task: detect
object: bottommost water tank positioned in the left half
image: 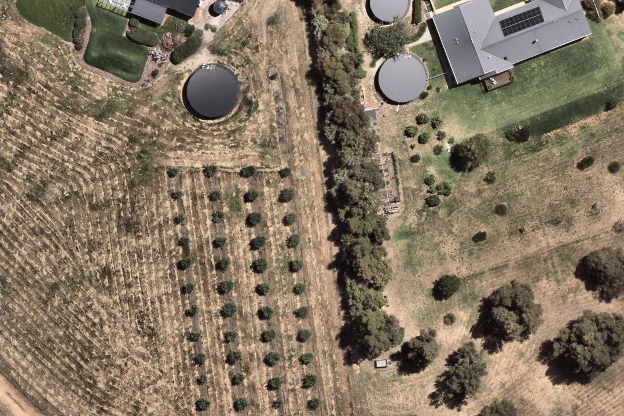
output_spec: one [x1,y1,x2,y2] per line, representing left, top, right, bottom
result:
[184,63,241,119]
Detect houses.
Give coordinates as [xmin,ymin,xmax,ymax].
[130,0,199,24]
[433,0,594,84]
